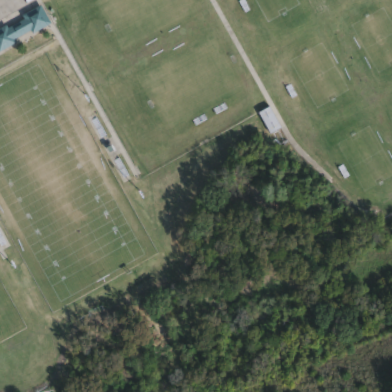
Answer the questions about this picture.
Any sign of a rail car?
No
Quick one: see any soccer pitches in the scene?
Yes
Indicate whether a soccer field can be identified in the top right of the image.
Yes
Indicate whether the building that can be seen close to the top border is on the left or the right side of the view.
left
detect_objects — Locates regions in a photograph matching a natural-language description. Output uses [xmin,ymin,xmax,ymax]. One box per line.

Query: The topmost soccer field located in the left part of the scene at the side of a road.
[94,0,209,55]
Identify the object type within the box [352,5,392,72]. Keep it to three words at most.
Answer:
soccer field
